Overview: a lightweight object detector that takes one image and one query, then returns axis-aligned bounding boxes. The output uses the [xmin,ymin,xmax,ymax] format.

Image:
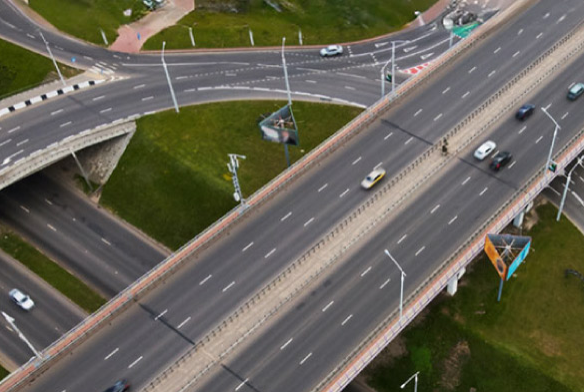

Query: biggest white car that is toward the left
[5,287,34,311]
